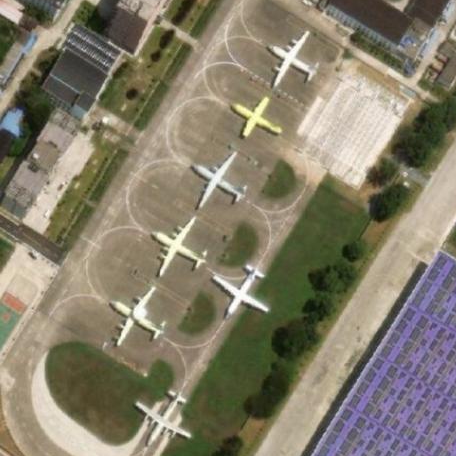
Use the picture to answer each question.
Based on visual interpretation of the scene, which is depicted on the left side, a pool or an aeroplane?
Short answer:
aeroplane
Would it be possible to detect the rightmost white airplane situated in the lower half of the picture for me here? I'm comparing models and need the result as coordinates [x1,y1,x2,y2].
[212,266,269,319]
